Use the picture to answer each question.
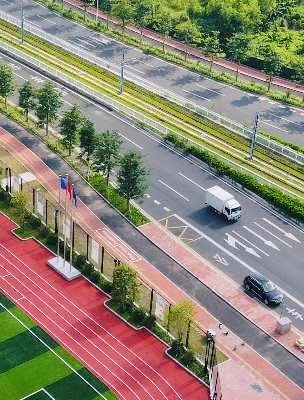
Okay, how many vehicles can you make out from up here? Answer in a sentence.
The count of vehicles comes to 2.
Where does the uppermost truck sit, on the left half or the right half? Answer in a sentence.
The uppermost truck is on the right side of the image.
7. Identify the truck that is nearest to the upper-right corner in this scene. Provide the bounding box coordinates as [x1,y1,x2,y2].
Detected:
[196,179,241,219]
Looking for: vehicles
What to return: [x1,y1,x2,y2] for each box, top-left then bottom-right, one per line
[242,271,283,303]
[196,179,241,219]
